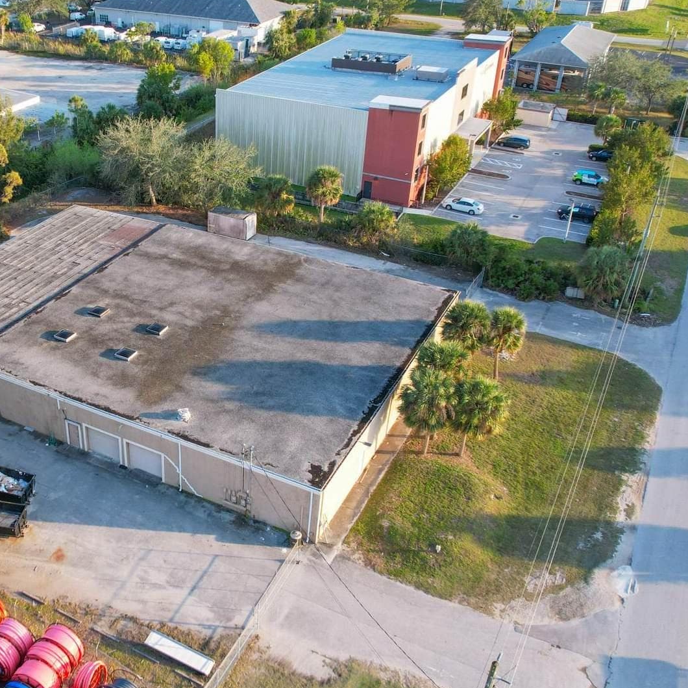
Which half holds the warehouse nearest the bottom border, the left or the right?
left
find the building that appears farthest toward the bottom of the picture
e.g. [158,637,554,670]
[0,205,458,543]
